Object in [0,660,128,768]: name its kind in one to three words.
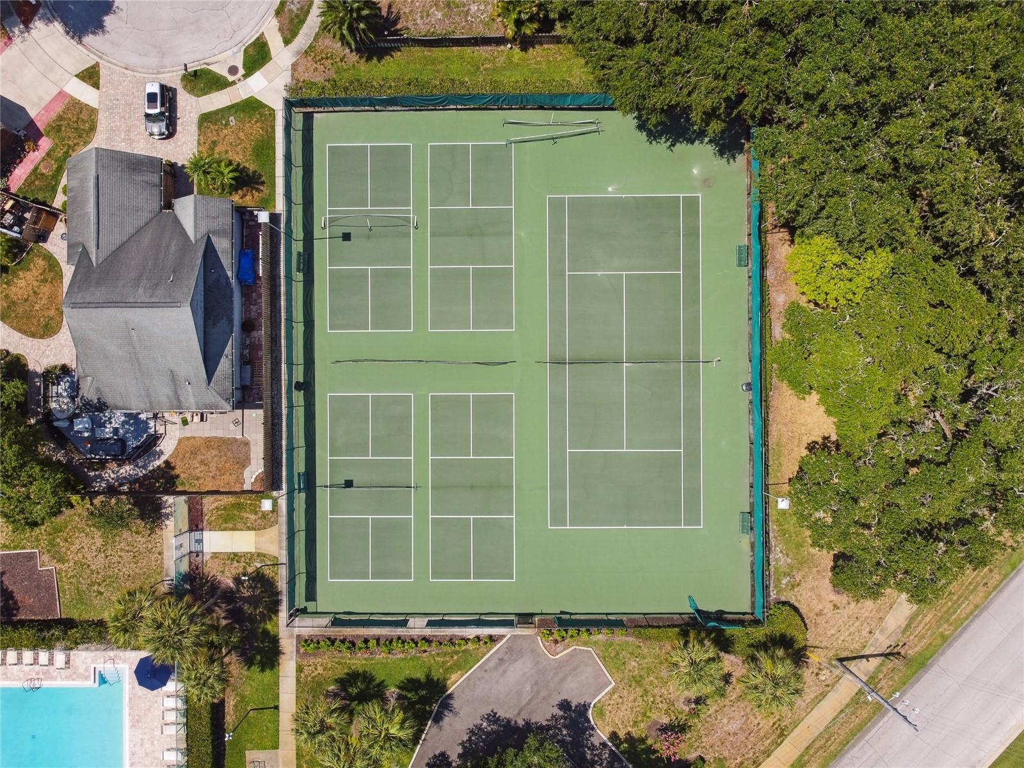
swimming pool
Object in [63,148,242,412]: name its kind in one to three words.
house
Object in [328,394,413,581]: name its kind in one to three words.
sports court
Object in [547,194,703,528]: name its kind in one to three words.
tennis court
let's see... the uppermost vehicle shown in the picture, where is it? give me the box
[140,83,174,141]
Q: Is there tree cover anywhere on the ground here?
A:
Yes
